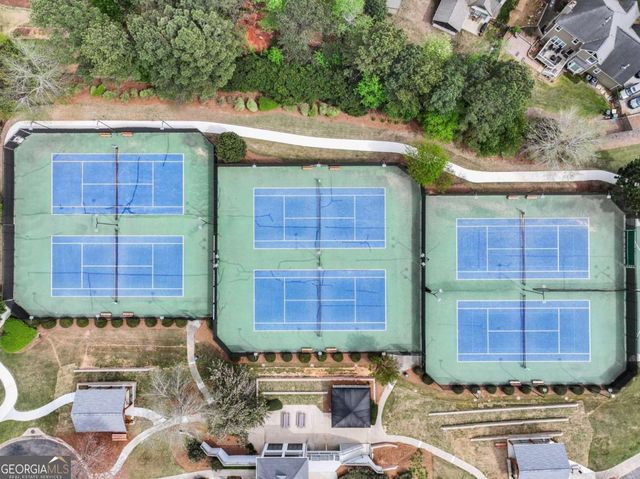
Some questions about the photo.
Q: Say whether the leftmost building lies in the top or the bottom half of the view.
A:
bottom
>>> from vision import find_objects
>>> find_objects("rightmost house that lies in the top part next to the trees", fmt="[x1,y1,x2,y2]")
[531,0,640,93]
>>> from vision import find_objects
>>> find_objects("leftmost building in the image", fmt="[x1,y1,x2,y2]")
[71,381,137,431]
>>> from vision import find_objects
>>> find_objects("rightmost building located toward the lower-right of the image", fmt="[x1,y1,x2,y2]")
[503,433,569,479]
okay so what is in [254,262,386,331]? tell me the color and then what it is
blue tennis court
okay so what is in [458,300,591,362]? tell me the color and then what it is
blue tennis court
